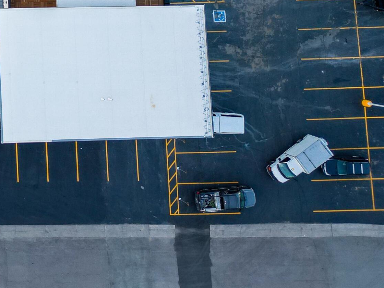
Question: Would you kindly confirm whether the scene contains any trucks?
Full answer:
Yes, the image includes a truck.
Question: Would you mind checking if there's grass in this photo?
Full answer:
No, the scene doesn't show any grass.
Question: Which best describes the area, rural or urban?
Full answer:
The area shown here is urban.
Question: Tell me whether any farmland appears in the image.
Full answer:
No, the picture contains no farmland.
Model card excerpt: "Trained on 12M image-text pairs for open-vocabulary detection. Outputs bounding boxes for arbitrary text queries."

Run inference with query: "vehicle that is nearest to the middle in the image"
[213,111,248,134]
